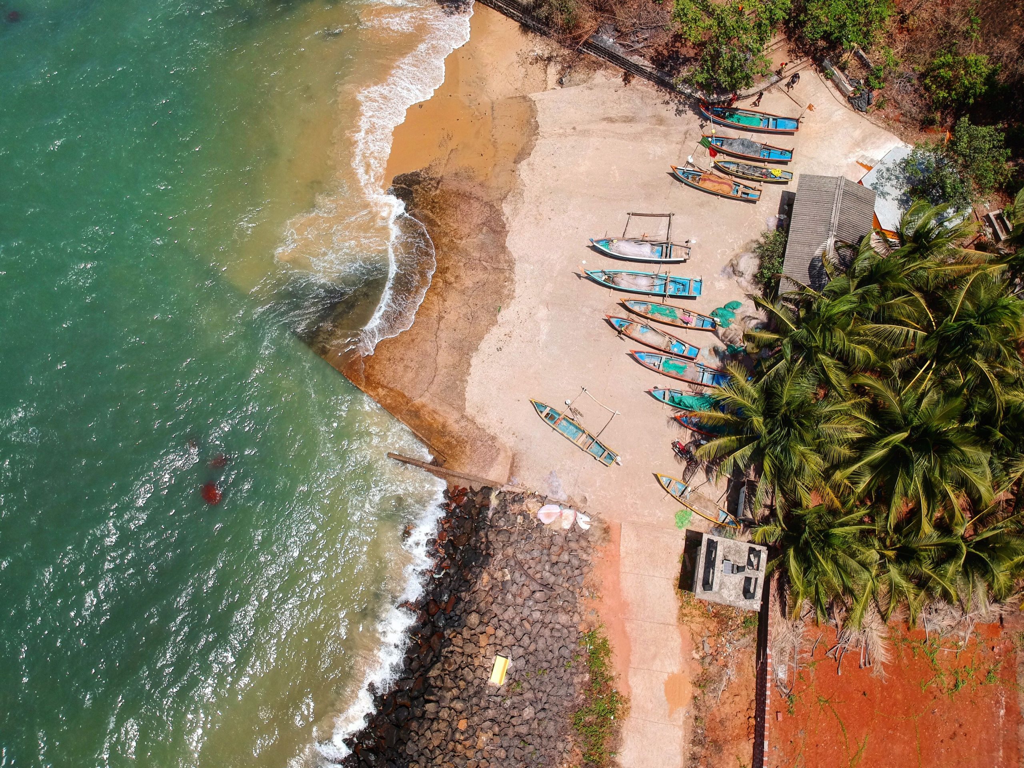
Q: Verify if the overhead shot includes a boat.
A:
Yes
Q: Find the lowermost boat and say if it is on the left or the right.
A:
right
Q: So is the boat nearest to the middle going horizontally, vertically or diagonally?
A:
diagonally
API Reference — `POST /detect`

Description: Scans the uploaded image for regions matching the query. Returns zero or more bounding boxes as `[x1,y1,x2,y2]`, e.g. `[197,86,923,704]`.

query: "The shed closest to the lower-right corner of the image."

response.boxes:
[684,524,767,611]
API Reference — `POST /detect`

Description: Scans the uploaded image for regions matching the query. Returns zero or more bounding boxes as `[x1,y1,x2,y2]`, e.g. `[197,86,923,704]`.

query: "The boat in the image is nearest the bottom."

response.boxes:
[657,462,742,529]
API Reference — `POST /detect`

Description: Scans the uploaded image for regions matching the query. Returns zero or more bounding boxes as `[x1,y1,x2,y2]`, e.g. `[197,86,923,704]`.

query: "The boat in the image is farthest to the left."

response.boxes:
[530,387,621,466]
